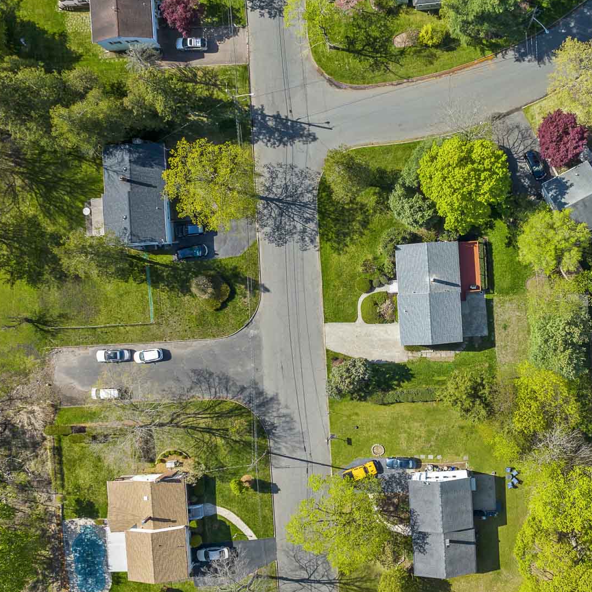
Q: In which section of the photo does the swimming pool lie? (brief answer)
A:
bottom left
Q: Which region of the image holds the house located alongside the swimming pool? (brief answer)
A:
bottom left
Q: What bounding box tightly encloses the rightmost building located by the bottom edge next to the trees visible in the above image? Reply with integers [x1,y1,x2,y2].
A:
[408,471,477,580]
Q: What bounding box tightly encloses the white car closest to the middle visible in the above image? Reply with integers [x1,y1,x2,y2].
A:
[133,347,166,363]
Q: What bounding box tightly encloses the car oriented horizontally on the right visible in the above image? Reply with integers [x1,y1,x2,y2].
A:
[385,455,419,472]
